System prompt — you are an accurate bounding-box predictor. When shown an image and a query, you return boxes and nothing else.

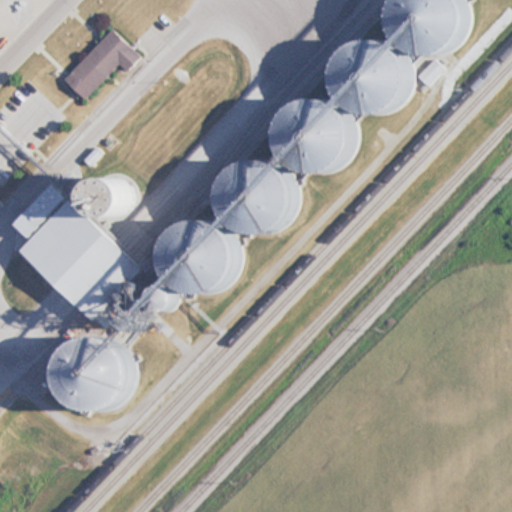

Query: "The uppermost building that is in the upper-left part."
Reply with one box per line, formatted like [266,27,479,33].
[64,30,141,99]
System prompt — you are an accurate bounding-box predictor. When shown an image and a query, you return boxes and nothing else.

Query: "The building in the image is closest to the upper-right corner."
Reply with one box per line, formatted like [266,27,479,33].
[419,61,447,86]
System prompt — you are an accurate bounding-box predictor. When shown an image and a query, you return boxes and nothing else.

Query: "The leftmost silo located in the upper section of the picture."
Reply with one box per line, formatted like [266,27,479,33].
[70,174,142,220]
